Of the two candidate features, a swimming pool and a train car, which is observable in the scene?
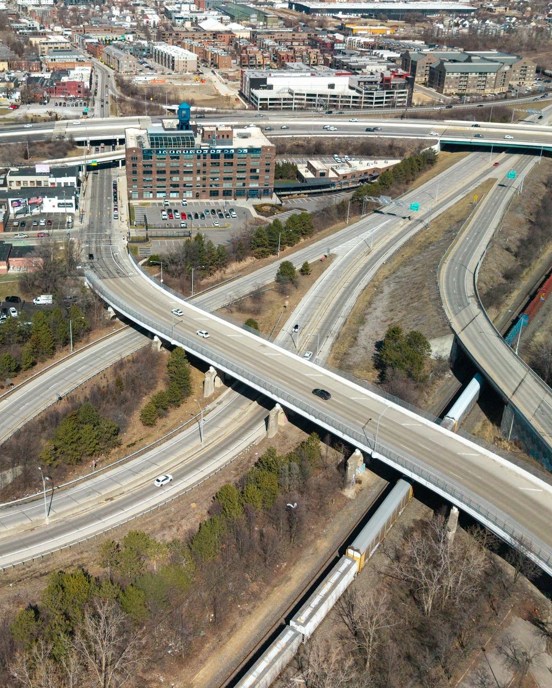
train car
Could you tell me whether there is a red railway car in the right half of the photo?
Yes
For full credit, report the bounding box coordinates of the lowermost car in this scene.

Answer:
[153,475,172,487]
